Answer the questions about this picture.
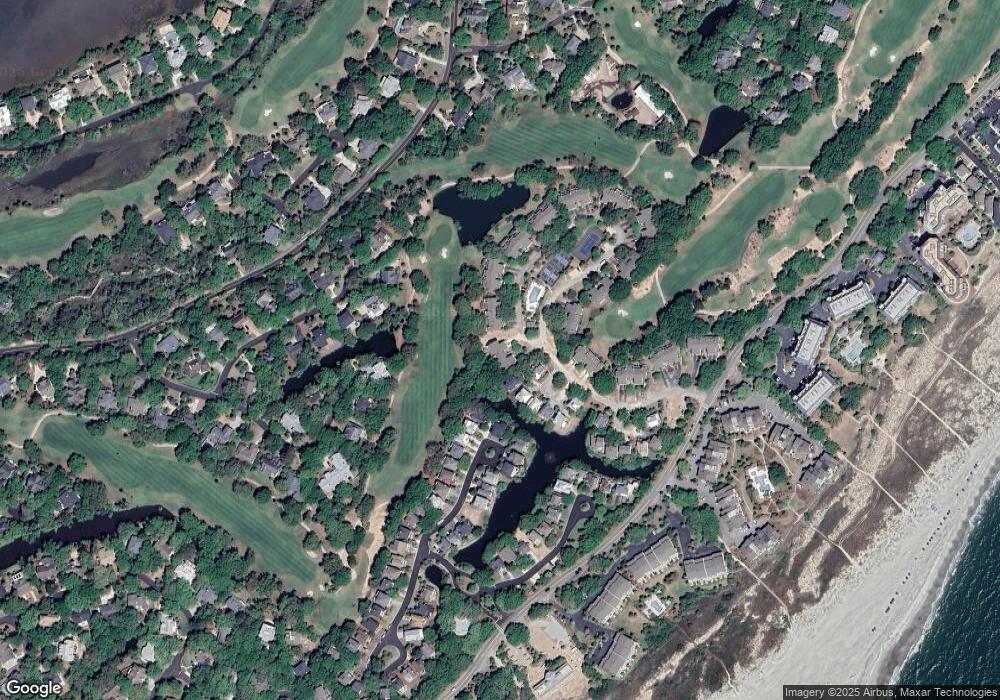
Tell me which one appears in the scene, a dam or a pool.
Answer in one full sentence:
It is a pool that can be seen here.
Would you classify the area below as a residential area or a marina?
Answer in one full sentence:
The picture captures a residential area.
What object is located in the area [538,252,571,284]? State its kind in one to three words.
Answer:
sports court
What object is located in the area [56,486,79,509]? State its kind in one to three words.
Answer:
house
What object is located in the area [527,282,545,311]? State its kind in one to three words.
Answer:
swimming pool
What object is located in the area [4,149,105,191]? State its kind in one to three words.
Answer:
pond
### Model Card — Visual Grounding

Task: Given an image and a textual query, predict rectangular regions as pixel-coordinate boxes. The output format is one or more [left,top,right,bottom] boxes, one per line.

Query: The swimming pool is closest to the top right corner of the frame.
[959,226,979,246]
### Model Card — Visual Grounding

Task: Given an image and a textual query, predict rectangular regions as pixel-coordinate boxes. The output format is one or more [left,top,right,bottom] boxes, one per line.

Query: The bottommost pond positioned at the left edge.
[0,505,174,556]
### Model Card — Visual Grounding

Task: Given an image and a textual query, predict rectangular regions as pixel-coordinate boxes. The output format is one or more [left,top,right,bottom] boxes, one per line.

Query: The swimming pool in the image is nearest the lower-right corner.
[749,467,773,498]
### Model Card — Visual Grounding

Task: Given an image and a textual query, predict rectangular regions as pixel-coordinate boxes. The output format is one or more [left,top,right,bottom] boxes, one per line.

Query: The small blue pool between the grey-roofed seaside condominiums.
[644,594,667,618]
